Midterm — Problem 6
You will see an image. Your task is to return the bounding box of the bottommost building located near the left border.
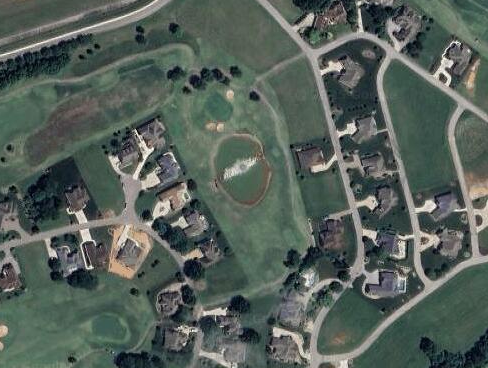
[0,264,20,292]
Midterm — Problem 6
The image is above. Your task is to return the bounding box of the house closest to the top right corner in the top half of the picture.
[446,41,474,72]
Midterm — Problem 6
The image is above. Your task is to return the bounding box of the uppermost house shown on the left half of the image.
[134,117,168,150]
